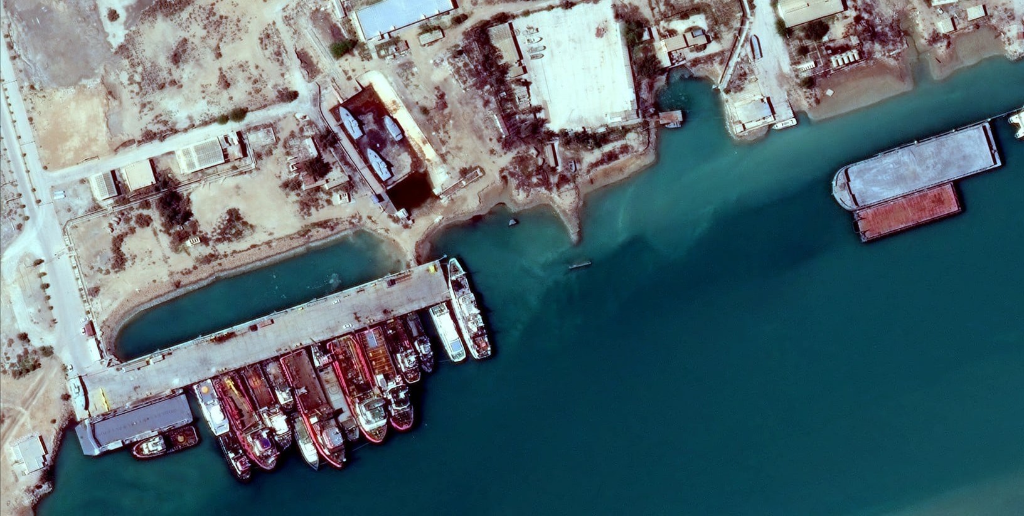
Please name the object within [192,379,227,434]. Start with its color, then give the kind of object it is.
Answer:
white boat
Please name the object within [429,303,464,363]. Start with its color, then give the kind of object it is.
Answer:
white ship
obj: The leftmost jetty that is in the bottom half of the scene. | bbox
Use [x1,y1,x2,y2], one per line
[67,255,451,421]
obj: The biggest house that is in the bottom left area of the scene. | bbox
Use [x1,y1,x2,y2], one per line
[17,437,45,473]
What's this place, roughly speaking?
port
